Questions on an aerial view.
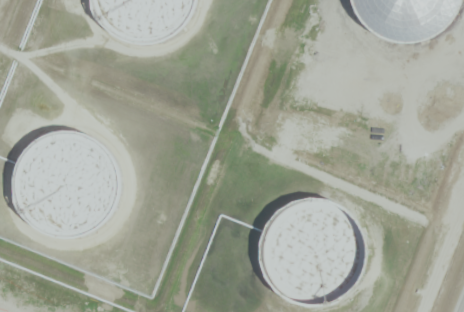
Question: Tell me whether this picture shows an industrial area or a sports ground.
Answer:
industrial area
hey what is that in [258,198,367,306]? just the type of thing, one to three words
storage tank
